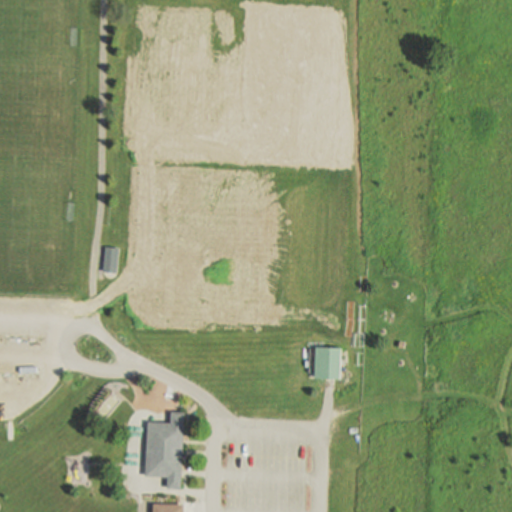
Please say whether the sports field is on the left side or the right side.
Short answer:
left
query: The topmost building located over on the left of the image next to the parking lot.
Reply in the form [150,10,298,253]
[145,412,186,490]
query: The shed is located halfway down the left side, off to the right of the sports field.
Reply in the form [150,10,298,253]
[104,247,118,272]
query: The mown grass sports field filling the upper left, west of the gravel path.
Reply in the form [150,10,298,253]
[0,0,80,296]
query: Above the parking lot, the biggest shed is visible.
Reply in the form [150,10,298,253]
[315,348,344,380]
